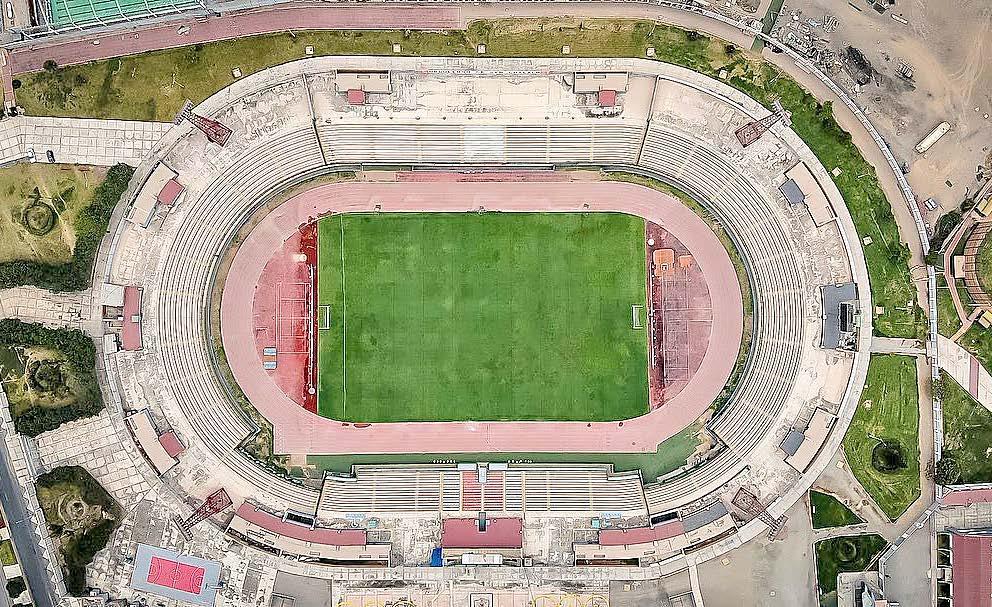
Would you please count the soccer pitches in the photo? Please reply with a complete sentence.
The picture shows just 1 soccer pitch.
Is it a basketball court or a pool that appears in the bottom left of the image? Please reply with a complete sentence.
The feature located in the bottom left of the image is a basketball court.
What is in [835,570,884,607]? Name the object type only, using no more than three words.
building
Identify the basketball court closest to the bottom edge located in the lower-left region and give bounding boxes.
[132,544,222,606]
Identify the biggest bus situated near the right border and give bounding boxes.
[911,123,949,153]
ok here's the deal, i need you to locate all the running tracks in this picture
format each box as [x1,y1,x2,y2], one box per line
[224,182,742,455]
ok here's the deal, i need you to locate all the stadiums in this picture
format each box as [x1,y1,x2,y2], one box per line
[90,55,874,584]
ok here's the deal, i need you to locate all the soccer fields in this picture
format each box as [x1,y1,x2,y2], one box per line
[317,212,650,421]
